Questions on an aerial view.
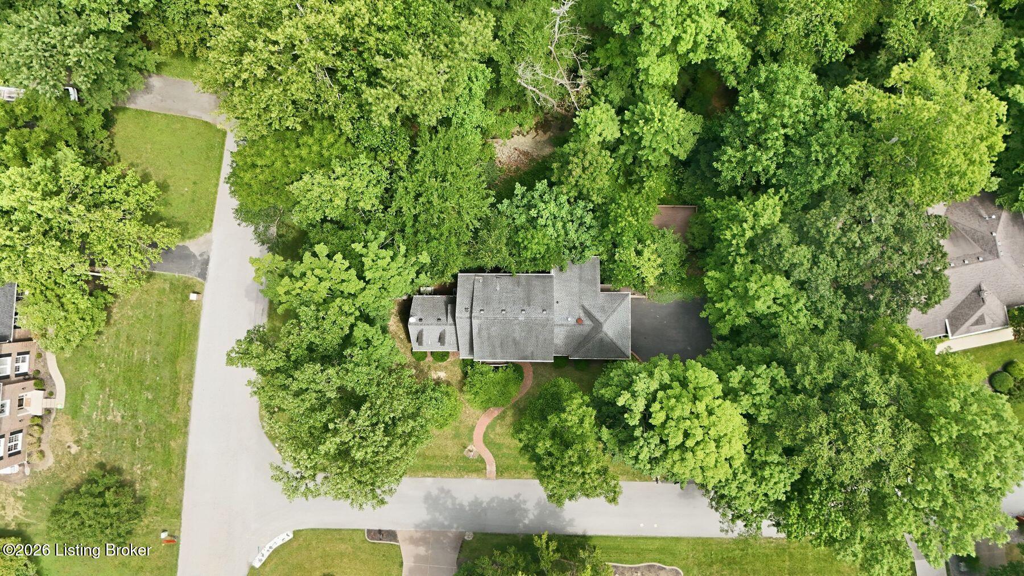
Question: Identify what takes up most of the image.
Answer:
trees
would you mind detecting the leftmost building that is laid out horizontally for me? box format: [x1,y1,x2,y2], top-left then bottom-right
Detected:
[408,256,631,366]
